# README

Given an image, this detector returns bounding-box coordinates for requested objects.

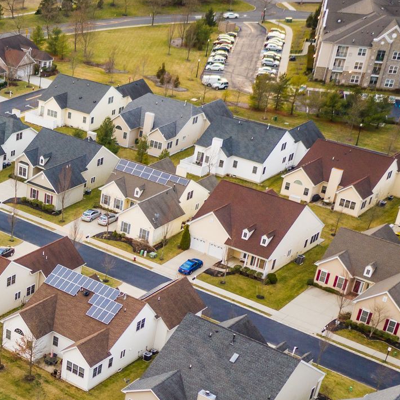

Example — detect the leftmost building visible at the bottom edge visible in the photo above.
[0,262,207,392]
